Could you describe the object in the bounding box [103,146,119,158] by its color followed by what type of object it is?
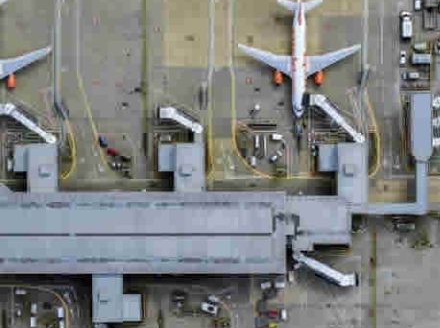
red vehicle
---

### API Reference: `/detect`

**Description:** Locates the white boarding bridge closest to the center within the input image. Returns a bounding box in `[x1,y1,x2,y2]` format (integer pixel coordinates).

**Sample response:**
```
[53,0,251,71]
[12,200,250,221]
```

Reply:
[157,107,205,143]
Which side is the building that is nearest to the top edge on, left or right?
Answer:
right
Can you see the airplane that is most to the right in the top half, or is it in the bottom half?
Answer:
top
